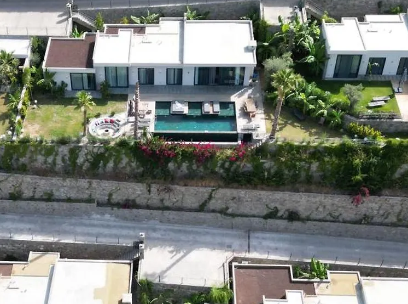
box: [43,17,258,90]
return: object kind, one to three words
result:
house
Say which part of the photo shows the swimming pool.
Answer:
center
